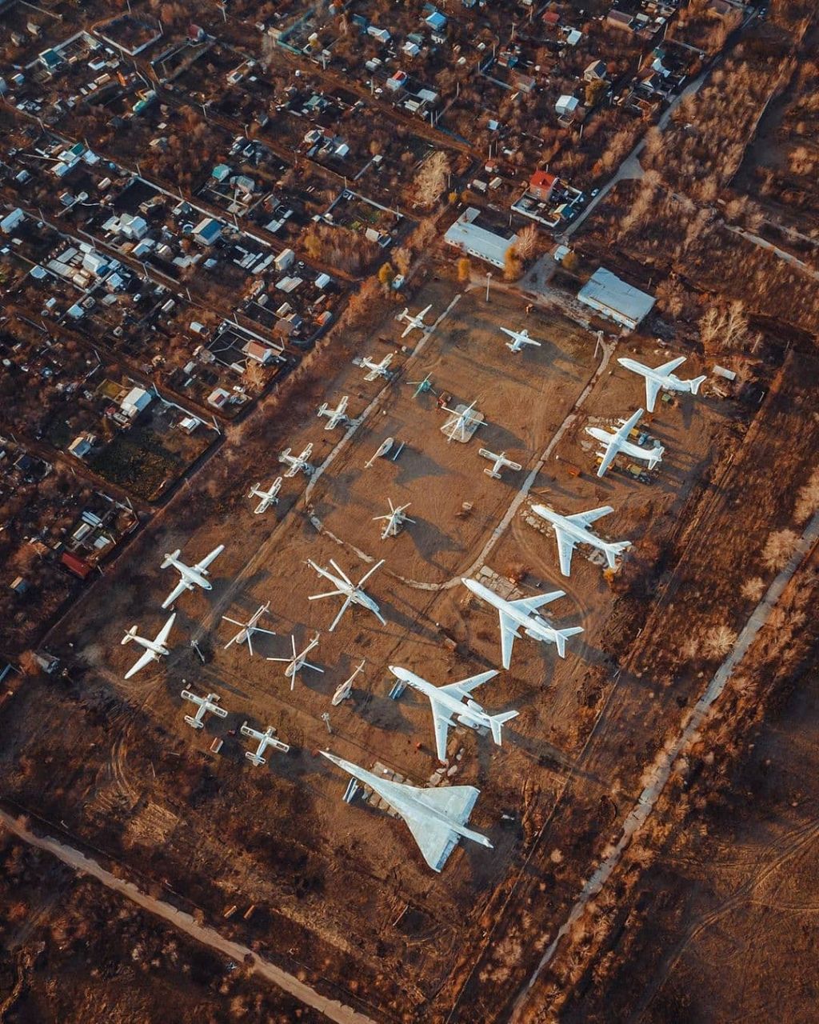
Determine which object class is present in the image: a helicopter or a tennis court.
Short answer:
helicopter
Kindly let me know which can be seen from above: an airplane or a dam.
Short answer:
airplane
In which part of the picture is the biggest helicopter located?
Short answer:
center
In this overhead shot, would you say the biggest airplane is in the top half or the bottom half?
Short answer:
bottom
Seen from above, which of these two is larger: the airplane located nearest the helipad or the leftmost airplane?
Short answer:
the leftmost airplane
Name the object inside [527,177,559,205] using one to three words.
house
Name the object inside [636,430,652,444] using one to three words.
vehicle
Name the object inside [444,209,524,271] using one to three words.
building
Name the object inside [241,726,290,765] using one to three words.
airplane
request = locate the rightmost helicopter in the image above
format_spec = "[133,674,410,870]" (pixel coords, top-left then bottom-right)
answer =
[442,400,488,440]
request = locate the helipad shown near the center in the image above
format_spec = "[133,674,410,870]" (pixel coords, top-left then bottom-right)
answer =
[441,404,484,443]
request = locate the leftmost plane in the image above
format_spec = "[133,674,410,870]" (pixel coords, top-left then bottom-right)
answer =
[120,609,170,673]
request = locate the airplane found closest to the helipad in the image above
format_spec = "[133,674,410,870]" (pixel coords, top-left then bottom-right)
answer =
[479,449,522,479]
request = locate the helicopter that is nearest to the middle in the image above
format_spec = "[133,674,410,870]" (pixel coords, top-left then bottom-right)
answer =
[373,497,415,538]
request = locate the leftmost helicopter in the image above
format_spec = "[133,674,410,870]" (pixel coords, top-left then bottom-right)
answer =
[223,602,275,654]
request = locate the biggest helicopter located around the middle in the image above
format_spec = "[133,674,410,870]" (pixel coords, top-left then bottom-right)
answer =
[306,555,386,629]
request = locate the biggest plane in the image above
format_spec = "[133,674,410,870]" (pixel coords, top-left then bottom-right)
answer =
[318,749,494,871]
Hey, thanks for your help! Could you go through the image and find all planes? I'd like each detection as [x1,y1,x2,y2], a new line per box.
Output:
[461,578,580,667]
[358,352,391,380]
[532,506,632,575]
[388,666,516,761]
[241,726,290,765]
[317,395,348,428]
[396,305,425,337]
[181,694,230,730]
[276,442,309,476]
[158,543,219,604]
[247,478,282,513]
[277,444,310,478]
[479,449,522,479]
[497,330,543,352]
[120,609,170,673]
[618,359,704,411]
[586,408,669,477]
[318,749,494,871]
